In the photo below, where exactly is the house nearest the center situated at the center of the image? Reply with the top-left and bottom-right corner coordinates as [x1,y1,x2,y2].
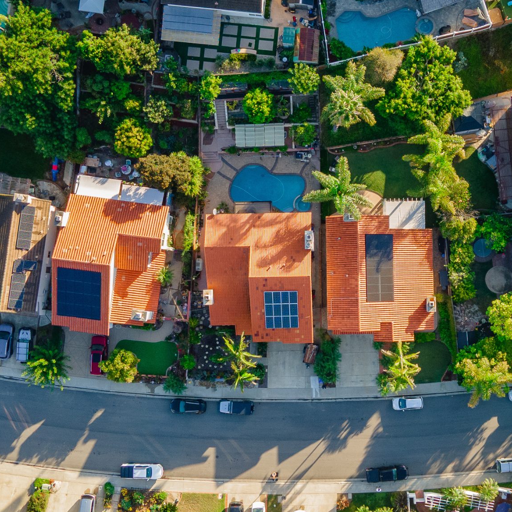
[204,208,318,344]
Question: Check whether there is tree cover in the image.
Yes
